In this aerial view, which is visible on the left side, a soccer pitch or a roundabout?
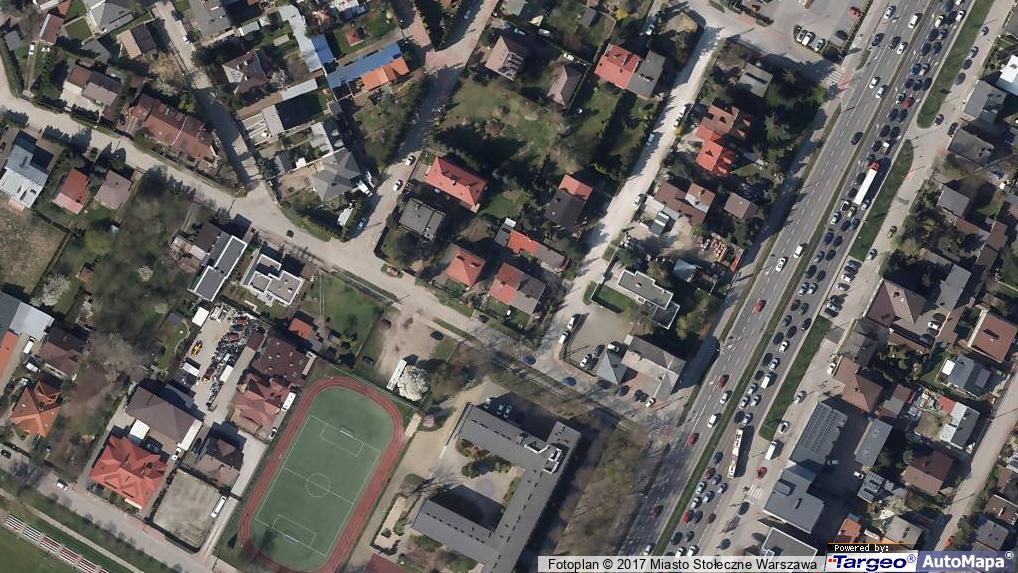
soccer pitch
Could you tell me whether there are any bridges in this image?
No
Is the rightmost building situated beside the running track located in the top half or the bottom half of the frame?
bottom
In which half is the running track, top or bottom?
bottom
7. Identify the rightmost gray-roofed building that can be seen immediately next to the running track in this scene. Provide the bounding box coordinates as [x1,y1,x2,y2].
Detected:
[413,404,582,573]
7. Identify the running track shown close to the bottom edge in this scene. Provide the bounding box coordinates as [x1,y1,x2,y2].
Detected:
[241,379,400,573]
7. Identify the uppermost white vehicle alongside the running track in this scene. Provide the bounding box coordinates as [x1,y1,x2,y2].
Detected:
[387,360,406,390]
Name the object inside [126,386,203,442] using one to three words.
house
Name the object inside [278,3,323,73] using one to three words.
building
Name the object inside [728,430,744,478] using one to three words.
vehicle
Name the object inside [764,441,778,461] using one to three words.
vehicle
